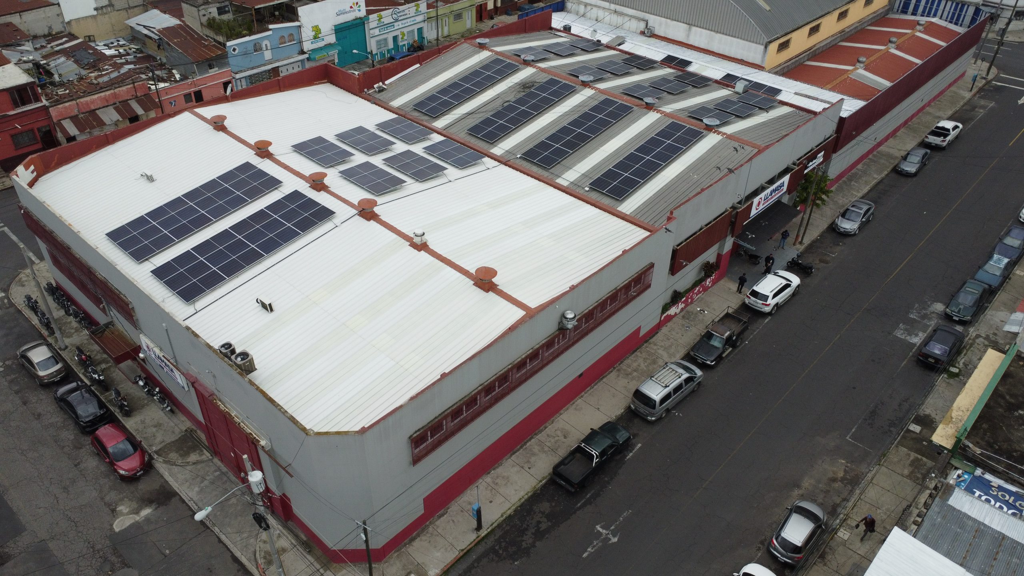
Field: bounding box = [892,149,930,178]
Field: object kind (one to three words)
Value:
car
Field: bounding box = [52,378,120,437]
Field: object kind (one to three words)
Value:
car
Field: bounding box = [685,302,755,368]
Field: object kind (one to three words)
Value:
truck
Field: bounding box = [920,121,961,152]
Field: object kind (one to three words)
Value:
truck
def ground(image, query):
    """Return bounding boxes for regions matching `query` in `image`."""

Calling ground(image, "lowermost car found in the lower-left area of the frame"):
[88,421,159,487]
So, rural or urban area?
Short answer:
urban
